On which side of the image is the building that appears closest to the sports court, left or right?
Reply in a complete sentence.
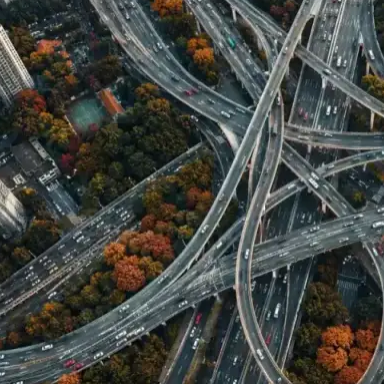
You can find the building that appears closest to the sports court on the left side of the picture.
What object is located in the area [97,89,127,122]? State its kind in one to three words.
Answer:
building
